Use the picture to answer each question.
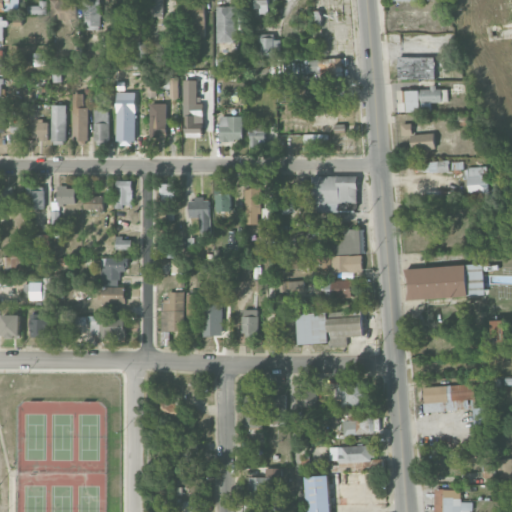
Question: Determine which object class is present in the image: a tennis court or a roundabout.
tennis court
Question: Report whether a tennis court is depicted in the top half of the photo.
No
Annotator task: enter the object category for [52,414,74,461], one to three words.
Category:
tennis court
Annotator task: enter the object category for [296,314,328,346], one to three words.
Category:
building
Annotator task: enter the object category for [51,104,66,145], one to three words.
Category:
house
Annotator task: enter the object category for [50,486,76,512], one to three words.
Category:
tennis court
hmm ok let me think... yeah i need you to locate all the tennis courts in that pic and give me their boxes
[22,486,48,512]
[76,486,102,512]
[52,414,74,461]
[78,414,100,461]
[24,414,47,461]
[50,486,76,512]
